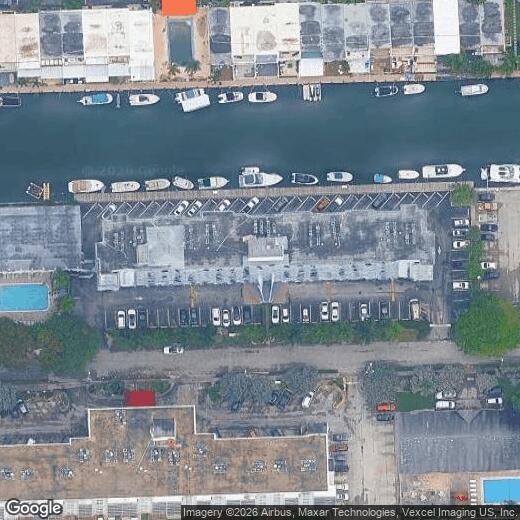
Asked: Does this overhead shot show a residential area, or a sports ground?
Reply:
residential area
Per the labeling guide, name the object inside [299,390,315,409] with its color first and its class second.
white car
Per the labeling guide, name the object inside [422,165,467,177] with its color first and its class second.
white boat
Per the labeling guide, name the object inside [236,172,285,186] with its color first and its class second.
white boat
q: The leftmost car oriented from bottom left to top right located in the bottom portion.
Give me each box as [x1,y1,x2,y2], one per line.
[228,397,245,415]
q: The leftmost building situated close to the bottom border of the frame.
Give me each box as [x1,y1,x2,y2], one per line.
[0,405,335,519]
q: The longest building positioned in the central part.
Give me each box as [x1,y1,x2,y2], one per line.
[97,204,434,307]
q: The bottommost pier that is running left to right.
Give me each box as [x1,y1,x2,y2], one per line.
[74,181,474,202]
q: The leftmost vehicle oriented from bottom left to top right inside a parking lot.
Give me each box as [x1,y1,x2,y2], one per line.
[100,201,117,217]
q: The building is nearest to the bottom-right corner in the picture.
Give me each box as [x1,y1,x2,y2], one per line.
[397,410,520,470]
